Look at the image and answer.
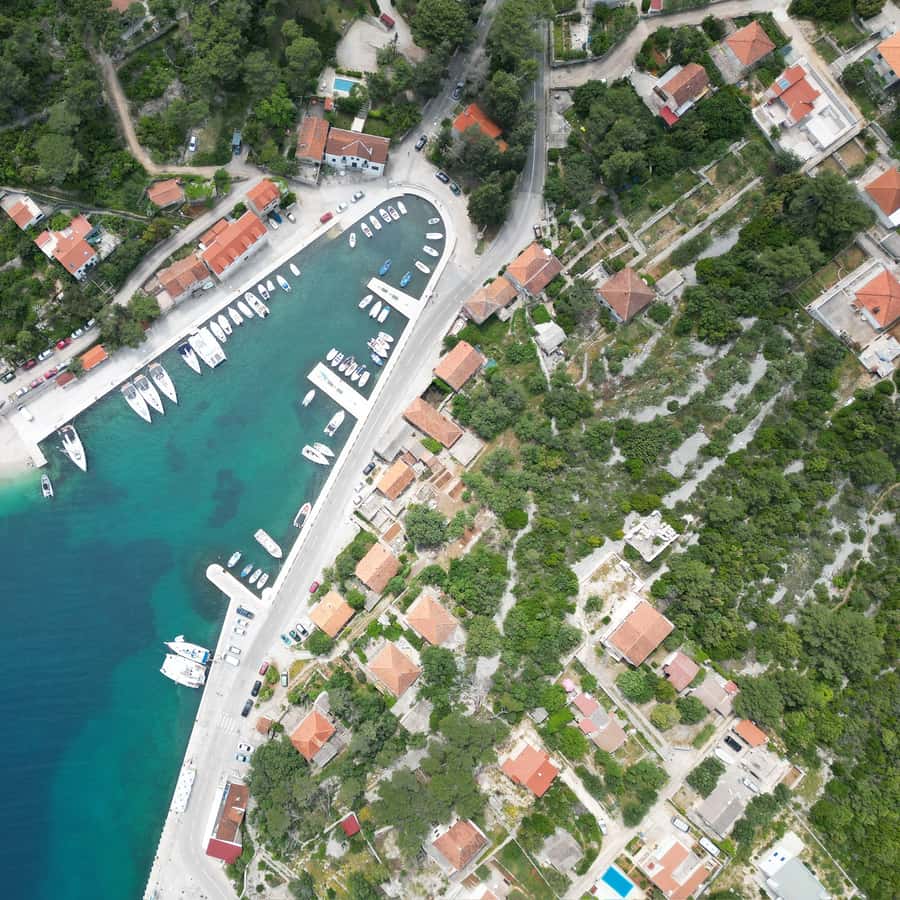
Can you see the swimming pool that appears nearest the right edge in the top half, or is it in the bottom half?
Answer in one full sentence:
You can find the swimming pool that appears nearest the right edge in the bottom half.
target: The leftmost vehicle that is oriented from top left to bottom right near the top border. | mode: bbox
[381,11,395,26]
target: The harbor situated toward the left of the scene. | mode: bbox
[3,150,542,900]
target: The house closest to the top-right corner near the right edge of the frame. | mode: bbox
[869,30,900,88]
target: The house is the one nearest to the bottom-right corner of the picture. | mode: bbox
[751,824,830,900]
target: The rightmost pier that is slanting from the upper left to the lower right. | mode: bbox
[367,278,419,318]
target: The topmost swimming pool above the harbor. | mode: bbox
[332,76,354,93]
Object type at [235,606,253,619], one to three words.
vehicle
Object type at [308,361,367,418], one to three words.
pier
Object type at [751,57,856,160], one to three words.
house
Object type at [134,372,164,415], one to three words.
boat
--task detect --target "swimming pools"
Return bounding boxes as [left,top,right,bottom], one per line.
[599,863,635,900]
[332,76,354,93]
